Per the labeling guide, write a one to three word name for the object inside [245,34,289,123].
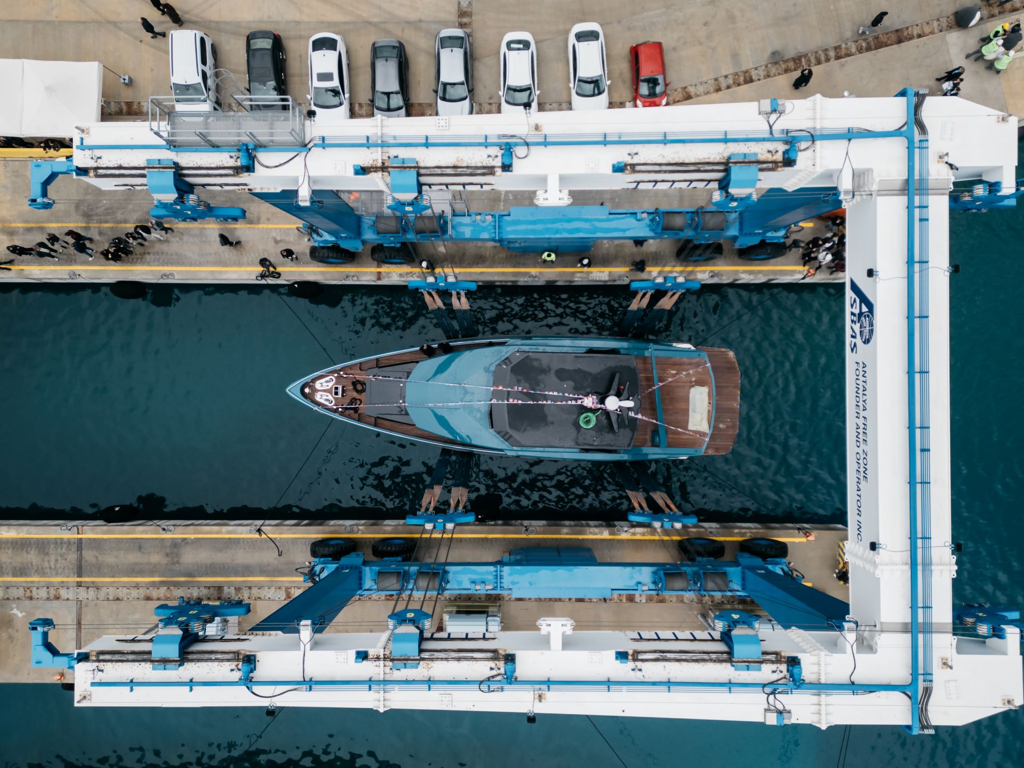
car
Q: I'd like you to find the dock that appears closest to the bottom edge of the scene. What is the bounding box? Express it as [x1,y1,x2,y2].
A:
[0,518,850,680]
